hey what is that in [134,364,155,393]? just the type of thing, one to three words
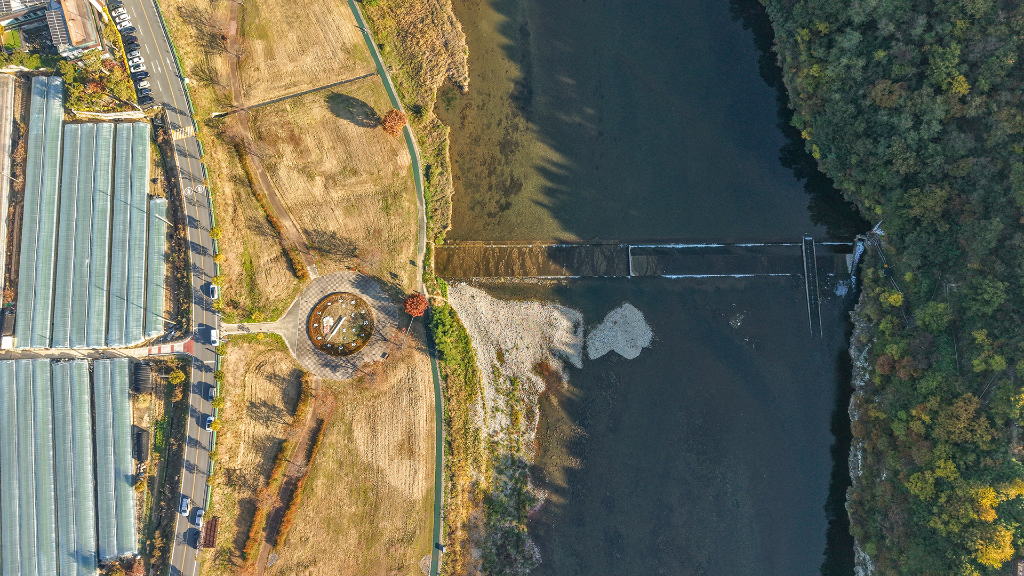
shed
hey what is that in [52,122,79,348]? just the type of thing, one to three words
greenhouse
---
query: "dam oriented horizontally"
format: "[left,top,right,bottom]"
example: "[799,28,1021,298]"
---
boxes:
[435,239,855,279]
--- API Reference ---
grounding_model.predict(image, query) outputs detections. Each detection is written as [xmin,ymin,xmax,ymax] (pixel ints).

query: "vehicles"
[192,530,203,549]
[127,43,141,51]
[109,1,125,10]
[131,63,146,73]
[133,70,150,81]
[121,27,137,36]
[140,96,156,105]
[117,20,133,30]
[195,509,205,528]
[206,416,214,432]
[112,7,127,17]
[123,36,139,45]
[116,14,131,23]
[138,81,150,89]
[210,285,218,299]
[129,57,145,66]
[210,329,220,346]
[180,498,191,517]
[128,50,141,59]
[139,88,153,97]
